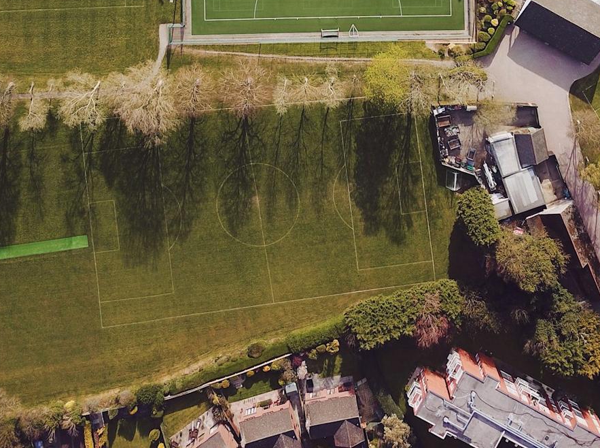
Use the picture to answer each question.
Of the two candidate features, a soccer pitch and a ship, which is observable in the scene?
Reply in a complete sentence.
Visible in the photo is a soccer pitch.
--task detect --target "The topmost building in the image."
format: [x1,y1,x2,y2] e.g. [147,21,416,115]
[513,0,600,63]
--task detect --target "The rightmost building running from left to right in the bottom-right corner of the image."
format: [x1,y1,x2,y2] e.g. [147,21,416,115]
[412,352,600,448]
